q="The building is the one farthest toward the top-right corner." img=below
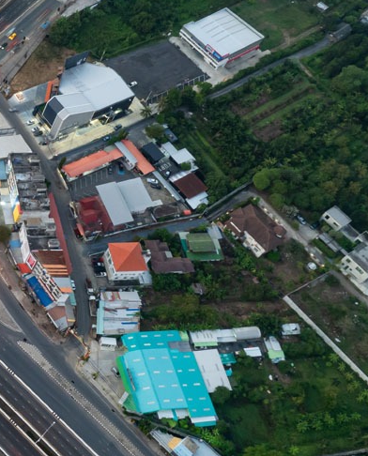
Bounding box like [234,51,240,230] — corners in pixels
[175,8,264,75]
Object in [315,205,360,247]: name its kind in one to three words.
house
